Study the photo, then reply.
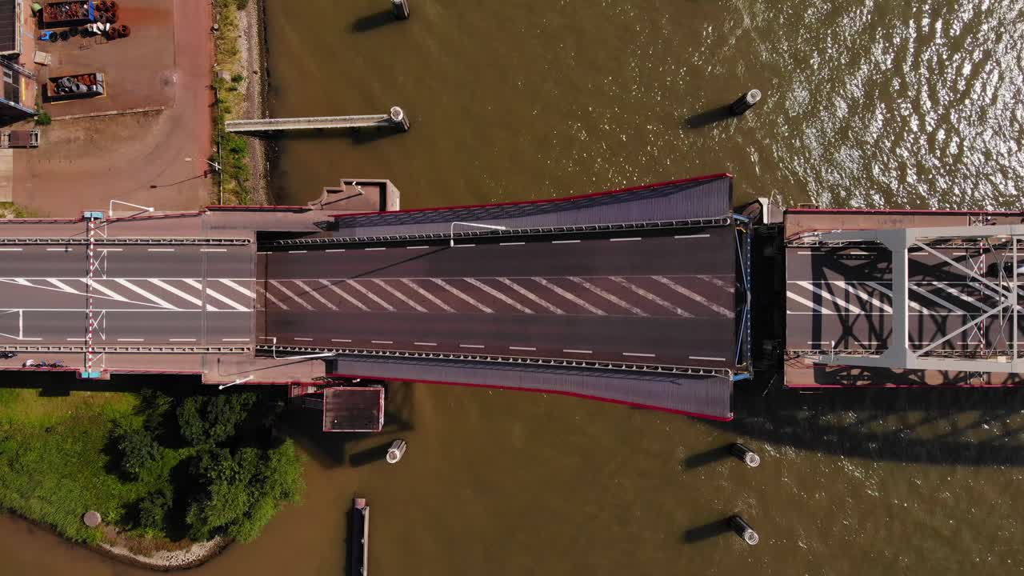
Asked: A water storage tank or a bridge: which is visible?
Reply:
bridge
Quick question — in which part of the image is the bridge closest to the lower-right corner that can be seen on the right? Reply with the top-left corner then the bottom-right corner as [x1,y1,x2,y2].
[780,200,1024,392]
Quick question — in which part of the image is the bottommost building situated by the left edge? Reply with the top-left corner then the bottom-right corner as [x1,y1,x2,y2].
[0,61,38,121]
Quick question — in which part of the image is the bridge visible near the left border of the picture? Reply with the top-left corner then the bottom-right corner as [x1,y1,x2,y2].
[0,206,333,385]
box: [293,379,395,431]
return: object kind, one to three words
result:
building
